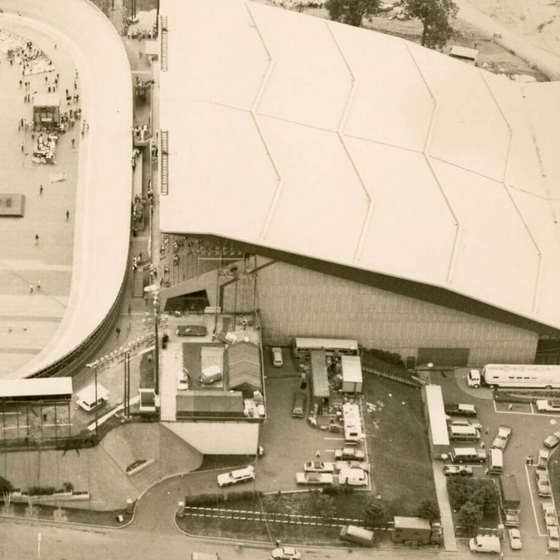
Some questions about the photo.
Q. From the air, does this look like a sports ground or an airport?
sports ground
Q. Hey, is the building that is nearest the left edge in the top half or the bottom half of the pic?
top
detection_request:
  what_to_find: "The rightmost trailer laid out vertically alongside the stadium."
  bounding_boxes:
[424,380,453,465]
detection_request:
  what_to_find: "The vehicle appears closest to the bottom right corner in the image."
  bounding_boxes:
[547,524,560,548]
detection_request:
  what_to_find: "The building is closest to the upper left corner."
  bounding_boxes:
[33,92,60,124]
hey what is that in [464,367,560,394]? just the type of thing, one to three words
truck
